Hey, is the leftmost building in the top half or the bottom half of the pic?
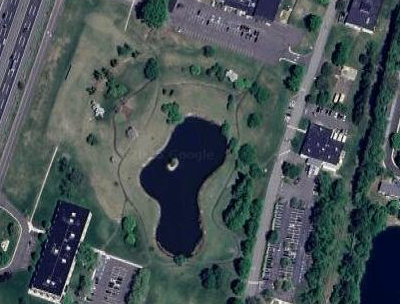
bottom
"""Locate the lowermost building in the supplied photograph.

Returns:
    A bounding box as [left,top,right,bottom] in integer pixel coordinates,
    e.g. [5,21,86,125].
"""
[29,200,93,300]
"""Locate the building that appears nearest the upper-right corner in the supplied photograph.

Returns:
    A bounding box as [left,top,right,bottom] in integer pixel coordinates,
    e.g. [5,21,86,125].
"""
[346,0,384,33]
